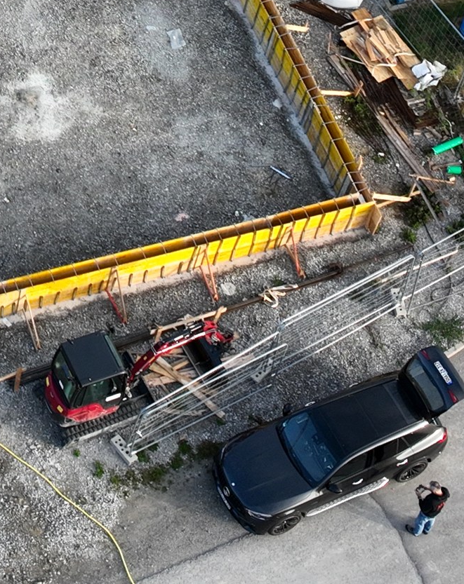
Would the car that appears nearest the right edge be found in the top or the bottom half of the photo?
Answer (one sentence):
The car that appears nearest the right edge is in the bottom half of the image.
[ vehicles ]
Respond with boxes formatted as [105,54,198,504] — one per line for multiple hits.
[211,339,464,531]
[32,316,233,452]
